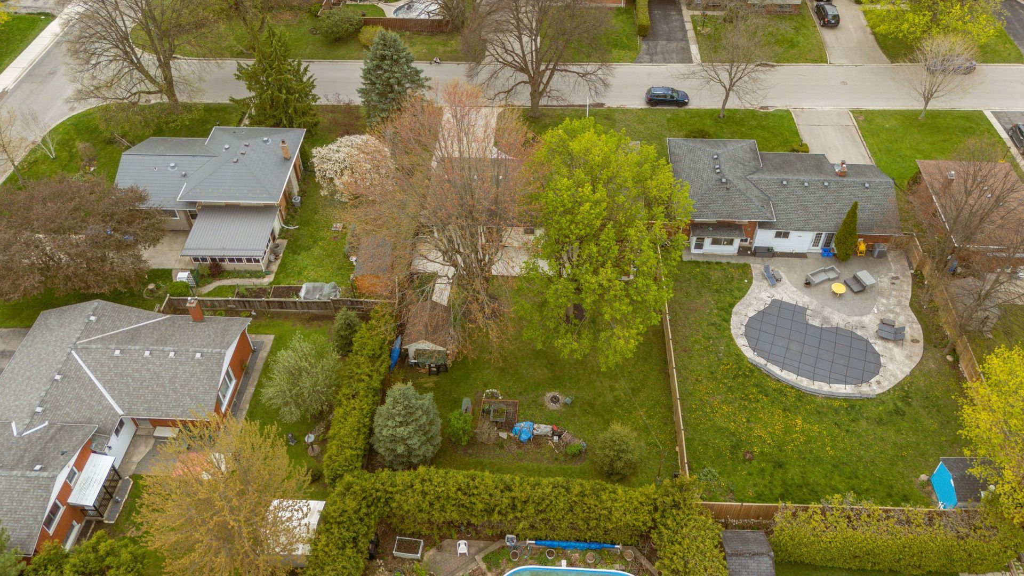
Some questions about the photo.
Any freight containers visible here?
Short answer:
No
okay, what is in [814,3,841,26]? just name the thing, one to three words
car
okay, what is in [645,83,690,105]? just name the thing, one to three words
car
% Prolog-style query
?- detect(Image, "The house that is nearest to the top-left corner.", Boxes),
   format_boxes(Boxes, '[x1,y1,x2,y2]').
[114,126,307,278]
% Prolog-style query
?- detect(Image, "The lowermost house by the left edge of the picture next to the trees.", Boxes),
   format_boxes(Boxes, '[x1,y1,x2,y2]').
[0,299,256,576]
